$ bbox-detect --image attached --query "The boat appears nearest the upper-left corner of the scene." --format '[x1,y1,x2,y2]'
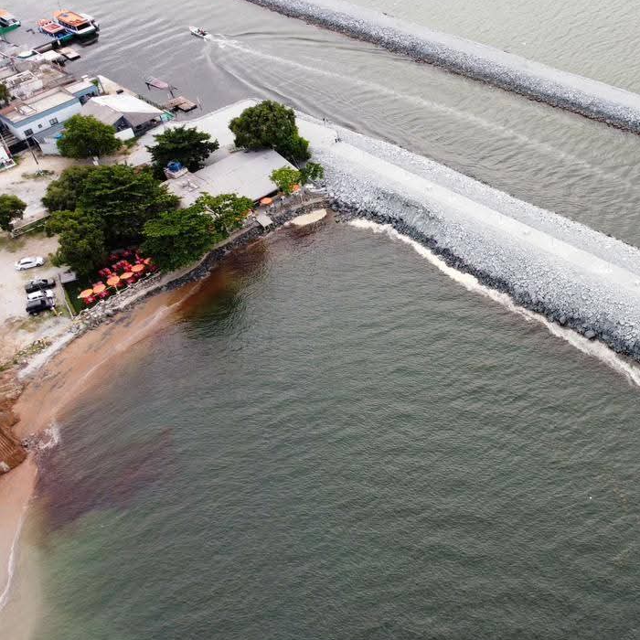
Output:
[0,17,22,34]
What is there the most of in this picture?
water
